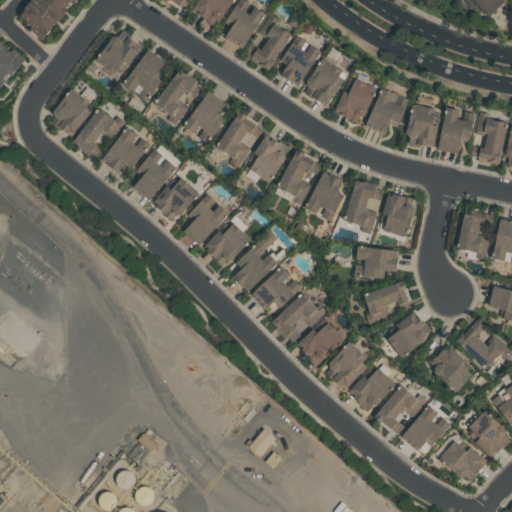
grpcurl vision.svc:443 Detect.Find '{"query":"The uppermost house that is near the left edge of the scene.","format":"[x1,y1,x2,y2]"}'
[24,0,80,34]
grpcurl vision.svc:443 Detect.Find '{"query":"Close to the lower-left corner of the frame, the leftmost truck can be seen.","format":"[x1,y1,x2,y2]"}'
[80,457,101,482]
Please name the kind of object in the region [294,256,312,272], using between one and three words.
swimming pool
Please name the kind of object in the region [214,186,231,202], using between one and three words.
swimming pool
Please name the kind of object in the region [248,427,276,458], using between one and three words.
shed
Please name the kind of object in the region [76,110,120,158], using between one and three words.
house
